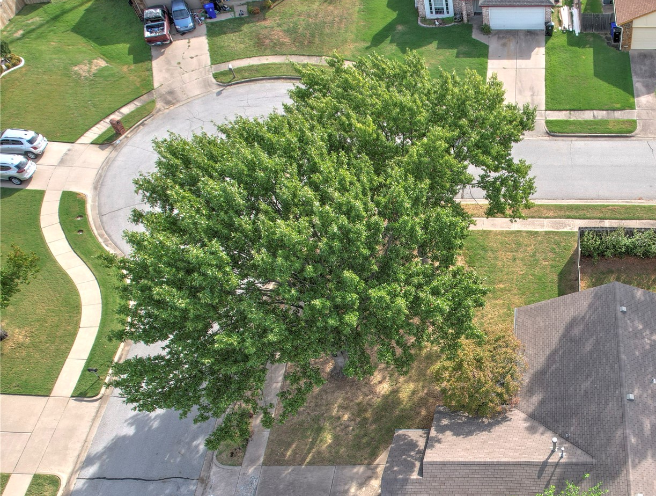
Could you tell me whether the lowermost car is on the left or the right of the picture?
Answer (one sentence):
The lowermost car sits on the left side.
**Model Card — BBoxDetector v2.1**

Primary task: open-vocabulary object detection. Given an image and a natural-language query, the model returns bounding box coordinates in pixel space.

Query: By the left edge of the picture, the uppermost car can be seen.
[0,131,46,163]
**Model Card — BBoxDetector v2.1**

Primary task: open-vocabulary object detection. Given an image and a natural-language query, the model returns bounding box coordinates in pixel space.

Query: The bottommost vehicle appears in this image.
[0,158,35,190]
